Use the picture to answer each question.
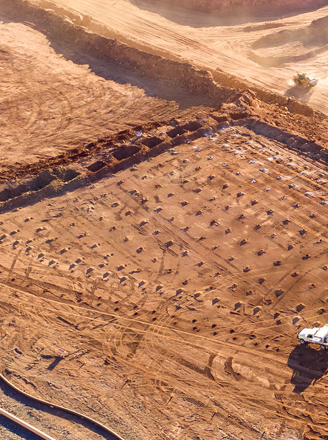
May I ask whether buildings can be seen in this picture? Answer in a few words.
No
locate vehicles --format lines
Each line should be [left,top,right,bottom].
[292,320,328,350]
[293,70,320,89]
